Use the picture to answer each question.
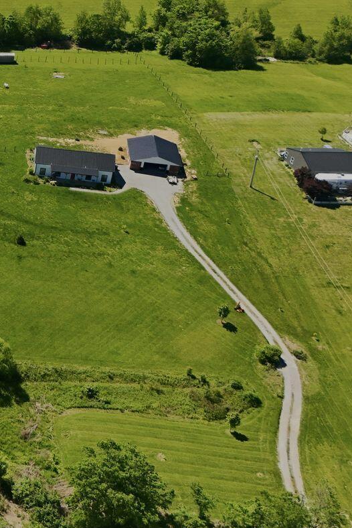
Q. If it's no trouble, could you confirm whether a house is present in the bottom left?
No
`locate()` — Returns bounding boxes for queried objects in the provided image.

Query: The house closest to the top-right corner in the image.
[278,146,352,177]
